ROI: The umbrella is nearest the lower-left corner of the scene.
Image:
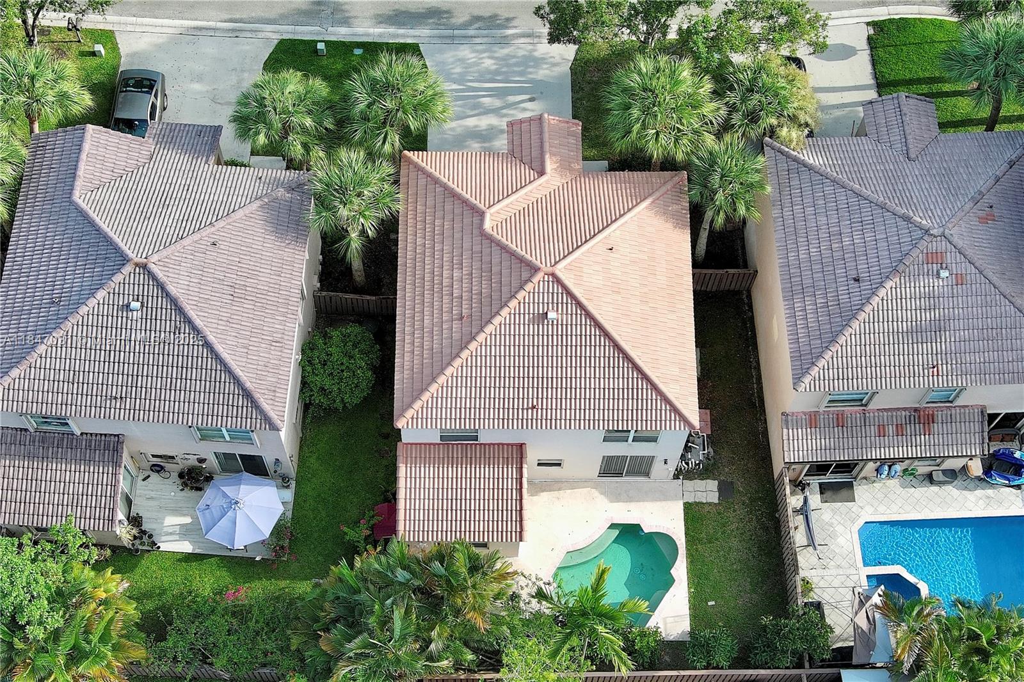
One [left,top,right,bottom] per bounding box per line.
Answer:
[199,472,281,550]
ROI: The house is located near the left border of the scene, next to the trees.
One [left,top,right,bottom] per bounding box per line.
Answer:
[0,122,322,543]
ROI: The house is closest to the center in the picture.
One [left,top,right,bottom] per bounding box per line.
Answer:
[393,110,702,556]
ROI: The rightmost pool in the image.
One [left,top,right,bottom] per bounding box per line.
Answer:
[851,508,1024,652]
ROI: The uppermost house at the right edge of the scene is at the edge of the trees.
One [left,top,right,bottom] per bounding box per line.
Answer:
[746,91,1024,489]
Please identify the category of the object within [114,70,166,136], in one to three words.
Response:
car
